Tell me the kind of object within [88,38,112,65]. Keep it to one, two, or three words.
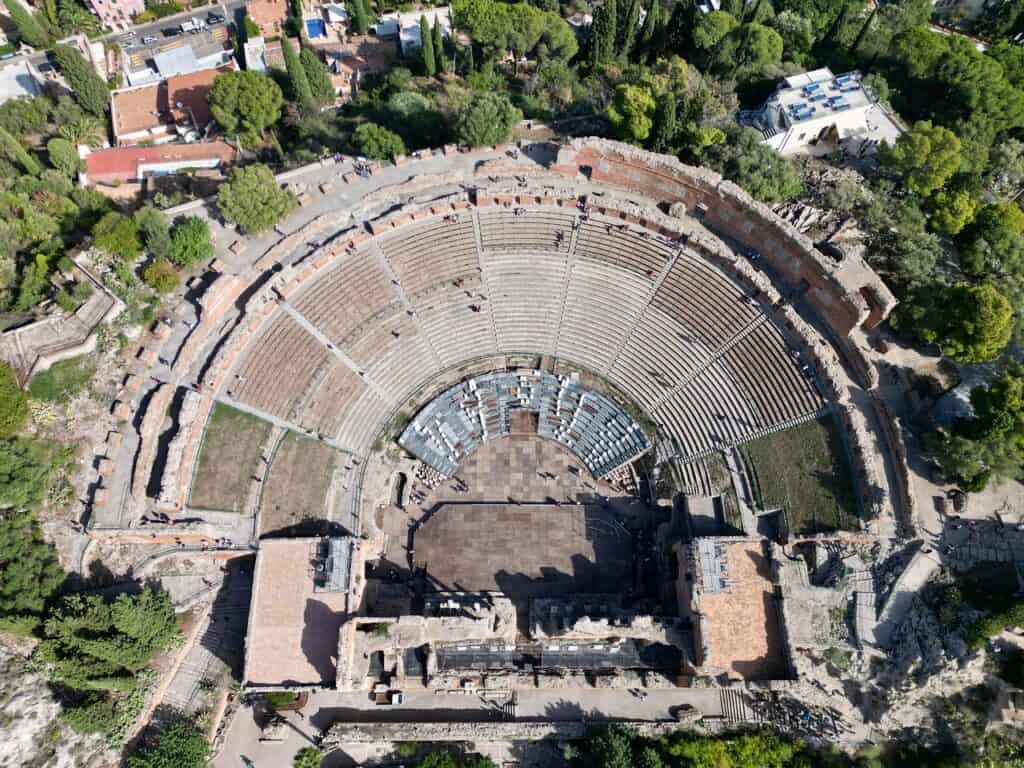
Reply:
house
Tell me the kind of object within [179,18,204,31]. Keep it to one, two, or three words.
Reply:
vehicle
